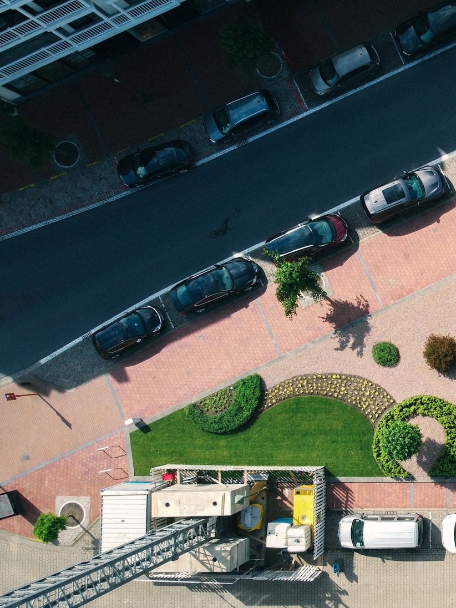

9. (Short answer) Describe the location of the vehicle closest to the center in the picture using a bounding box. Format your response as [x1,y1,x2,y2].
[169,258,264,315]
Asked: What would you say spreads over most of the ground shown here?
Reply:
paved ground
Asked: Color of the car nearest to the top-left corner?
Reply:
black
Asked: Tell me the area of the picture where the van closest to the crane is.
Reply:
bottom right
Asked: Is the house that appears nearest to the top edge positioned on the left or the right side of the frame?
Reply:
left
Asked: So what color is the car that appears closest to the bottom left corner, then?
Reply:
black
